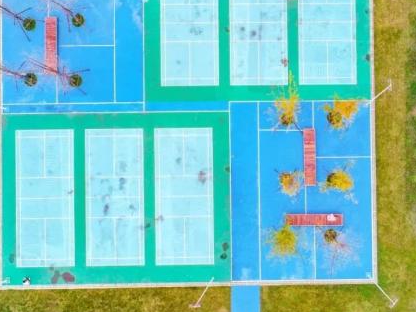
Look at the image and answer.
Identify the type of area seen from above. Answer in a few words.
sports ground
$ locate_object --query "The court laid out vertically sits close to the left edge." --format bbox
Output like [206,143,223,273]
[15,130,74,267]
